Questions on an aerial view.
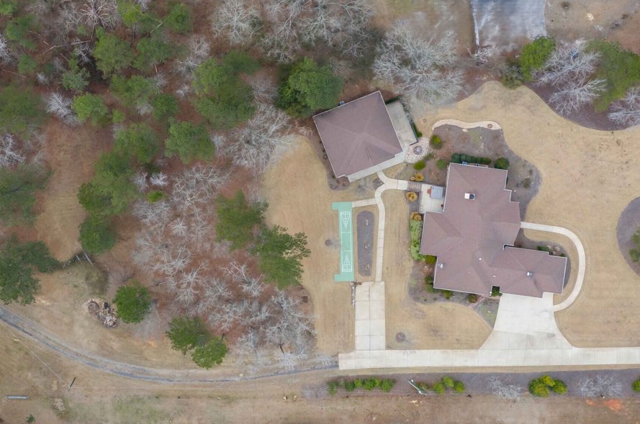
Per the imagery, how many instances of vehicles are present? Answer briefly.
0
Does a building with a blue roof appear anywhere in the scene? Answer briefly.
No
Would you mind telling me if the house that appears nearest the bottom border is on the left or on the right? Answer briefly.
right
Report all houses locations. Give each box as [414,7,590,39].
[418,163,568,298]
[313,91,403,177]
